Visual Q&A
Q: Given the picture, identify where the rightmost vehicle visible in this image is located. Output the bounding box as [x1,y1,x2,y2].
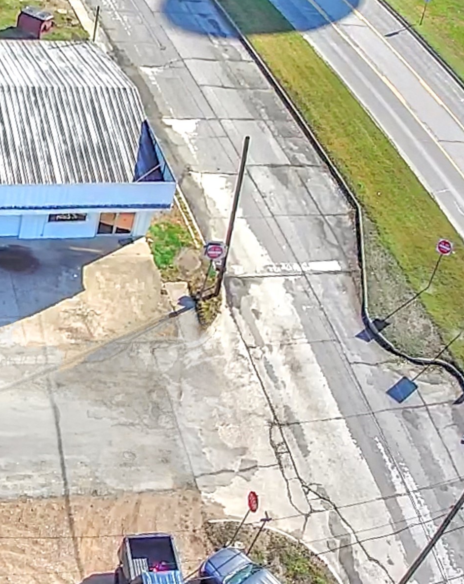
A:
[188,540,272,584]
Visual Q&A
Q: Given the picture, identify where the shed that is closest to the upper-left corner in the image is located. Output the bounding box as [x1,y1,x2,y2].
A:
[18,0,58,39]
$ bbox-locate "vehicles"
[188,540,272,584]
[123,538,185,584]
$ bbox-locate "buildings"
[18,0,58,39]
[0,39,178,238]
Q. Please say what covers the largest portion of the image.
paved ground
